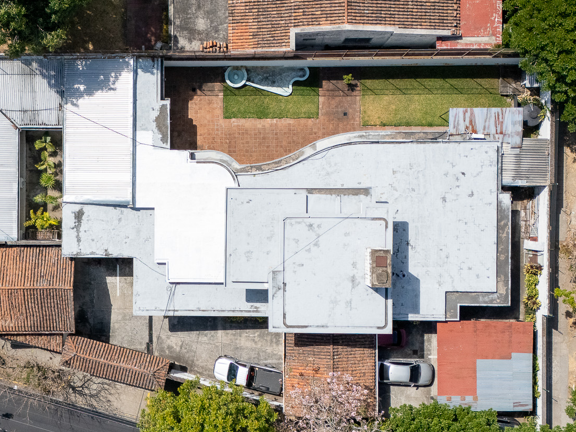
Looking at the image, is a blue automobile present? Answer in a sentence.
No, no blue automobile is visible in the view.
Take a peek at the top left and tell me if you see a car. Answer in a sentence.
No, I can find no car at the top left.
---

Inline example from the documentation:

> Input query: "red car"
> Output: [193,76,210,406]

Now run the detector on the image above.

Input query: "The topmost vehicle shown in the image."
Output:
[378,323,411,351]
